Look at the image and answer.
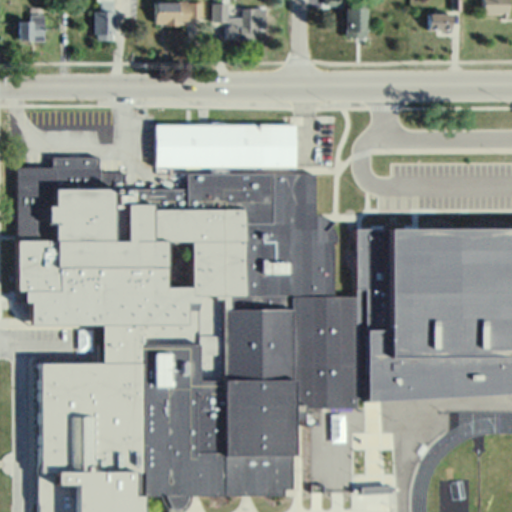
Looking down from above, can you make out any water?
No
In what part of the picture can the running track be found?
bottom right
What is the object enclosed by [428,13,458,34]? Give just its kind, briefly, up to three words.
house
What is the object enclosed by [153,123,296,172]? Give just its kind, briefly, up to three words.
building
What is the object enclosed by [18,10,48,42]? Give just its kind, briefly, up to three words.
house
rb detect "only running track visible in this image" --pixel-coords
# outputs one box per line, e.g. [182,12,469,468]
[410,412,512,512]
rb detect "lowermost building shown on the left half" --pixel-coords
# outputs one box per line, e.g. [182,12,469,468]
[16,157,356,512]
